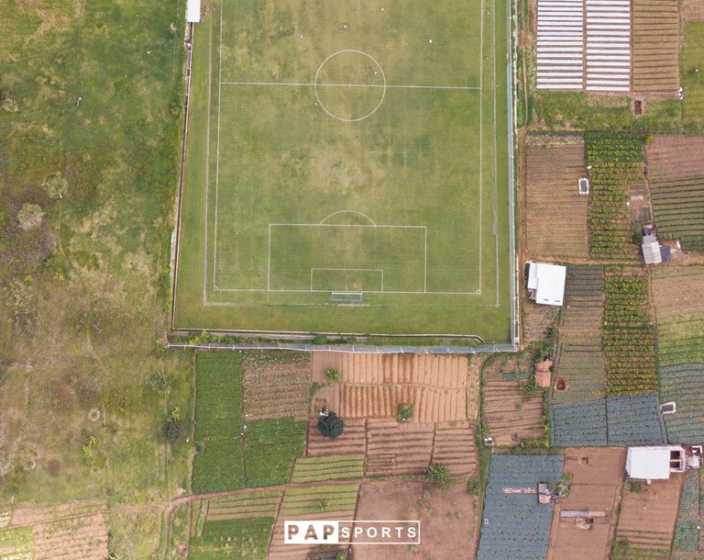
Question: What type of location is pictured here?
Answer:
sports ground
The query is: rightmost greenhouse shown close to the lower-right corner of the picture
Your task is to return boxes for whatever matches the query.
[627,447,690,483]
